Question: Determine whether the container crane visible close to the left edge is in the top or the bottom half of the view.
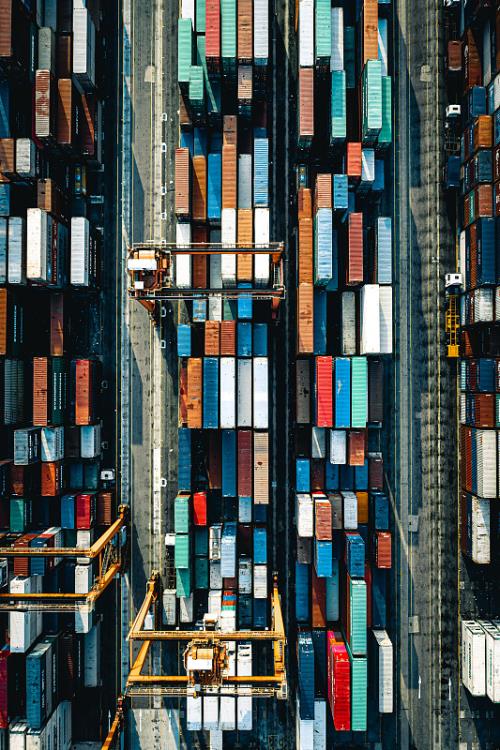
bottom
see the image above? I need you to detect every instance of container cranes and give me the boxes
[0,503,127,620]
[103,702,126,750]
[124,570,293,703]
[123,239,293,328]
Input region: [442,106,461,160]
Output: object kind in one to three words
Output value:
vehicle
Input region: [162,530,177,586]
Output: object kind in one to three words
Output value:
vehicle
